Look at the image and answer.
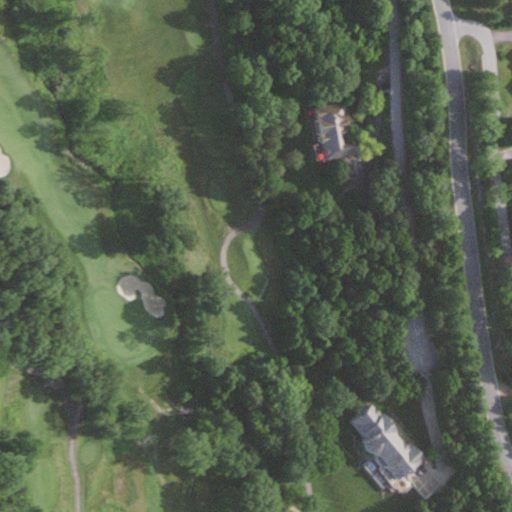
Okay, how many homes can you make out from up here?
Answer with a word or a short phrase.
2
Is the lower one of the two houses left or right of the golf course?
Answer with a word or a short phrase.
to the right of it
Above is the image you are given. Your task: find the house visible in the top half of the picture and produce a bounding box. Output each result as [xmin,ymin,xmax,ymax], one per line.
[318,106,352,154]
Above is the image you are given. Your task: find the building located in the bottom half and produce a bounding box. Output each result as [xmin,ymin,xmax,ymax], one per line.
[352,405,430,481]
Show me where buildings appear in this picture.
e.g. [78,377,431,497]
[352,405,430,481]
[318,106,352,154]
